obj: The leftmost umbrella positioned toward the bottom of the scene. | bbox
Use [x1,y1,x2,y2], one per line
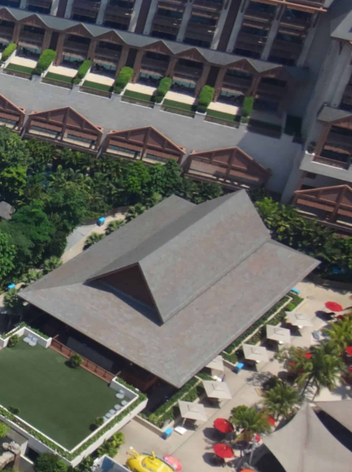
[175,399,210,430]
